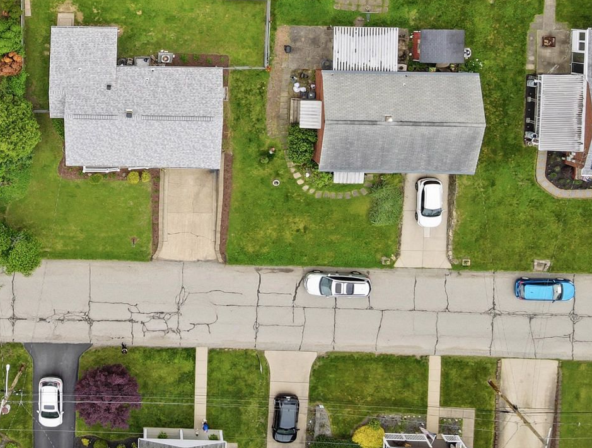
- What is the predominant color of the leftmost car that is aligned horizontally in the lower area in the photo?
white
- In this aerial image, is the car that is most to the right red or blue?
blue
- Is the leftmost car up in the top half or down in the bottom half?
bottom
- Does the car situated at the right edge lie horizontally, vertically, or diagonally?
horizontally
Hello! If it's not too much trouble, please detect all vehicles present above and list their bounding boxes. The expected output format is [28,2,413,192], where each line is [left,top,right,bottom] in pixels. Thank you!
[514,276,574,306]
[417,177,447,227]
[302,271,371,302]
[269,391,301,442]
[35,375,64,428]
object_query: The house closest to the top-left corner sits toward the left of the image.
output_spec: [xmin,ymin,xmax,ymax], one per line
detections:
[48,26,226,173]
